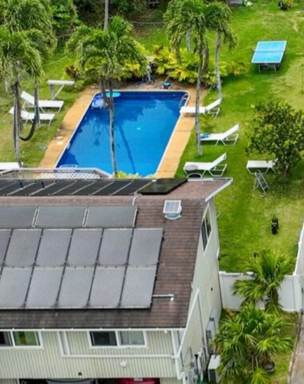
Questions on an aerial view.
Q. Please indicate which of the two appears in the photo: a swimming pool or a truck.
swimming pool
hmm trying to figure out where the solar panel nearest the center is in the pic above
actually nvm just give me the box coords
[164,192,180,208]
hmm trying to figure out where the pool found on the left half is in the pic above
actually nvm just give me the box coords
[52,94,186,178]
